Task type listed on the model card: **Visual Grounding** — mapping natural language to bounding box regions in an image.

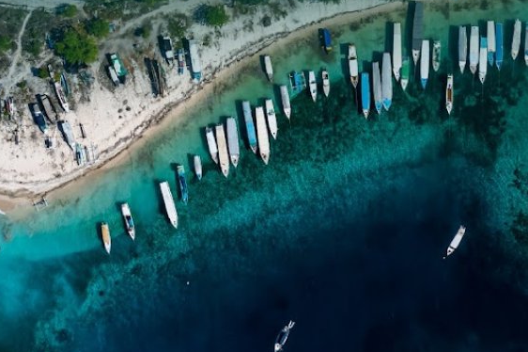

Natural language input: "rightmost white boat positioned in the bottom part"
[448,226,465,256]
